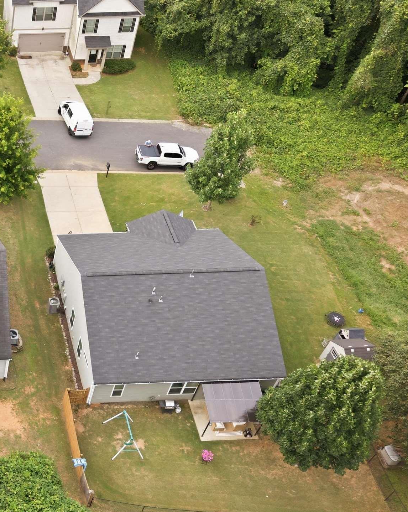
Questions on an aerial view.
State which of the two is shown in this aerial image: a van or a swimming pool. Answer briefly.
van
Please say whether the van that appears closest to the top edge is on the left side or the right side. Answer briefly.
left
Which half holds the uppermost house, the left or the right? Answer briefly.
left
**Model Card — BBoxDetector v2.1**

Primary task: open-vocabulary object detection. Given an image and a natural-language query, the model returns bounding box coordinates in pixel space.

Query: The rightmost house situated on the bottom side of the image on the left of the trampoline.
[56,207,297,408]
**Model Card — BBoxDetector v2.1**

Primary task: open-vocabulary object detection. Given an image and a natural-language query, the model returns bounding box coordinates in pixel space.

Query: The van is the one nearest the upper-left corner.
[58,102,95,140]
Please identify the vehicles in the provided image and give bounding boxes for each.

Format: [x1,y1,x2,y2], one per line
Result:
[58,102,95,140]
[137,141,203,171]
